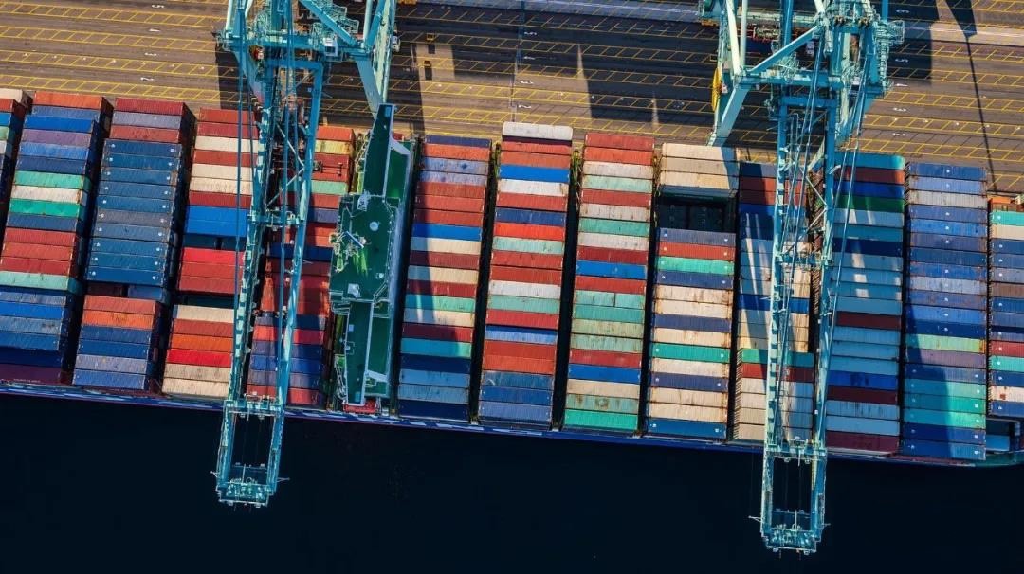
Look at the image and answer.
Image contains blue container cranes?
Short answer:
Yes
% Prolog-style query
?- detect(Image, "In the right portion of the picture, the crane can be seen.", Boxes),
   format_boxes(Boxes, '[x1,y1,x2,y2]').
[694,0,898,557]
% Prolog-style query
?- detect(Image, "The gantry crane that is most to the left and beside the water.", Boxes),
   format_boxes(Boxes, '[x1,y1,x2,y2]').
[204,0,406,509]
